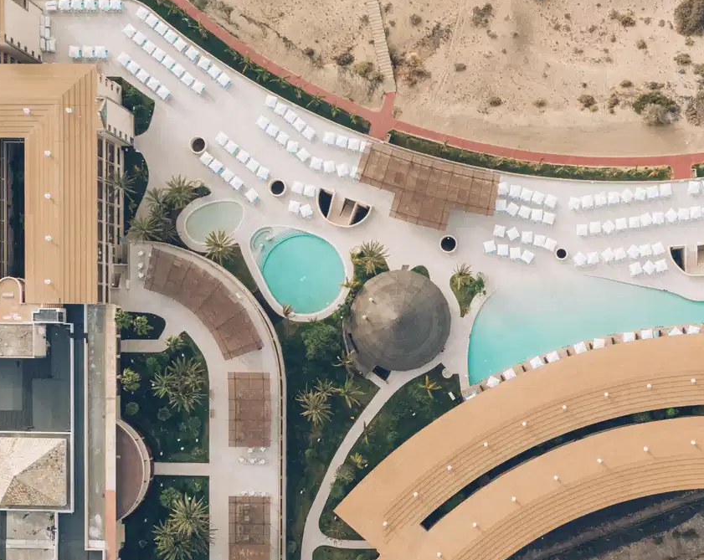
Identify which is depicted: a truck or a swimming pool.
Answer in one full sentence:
It is a swimming pool that can be seen here.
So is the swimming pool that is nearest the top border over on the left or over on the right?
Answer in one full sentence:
It is on the left.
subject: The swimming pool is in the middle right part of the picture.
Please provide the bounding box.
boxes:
[469,272,704,387]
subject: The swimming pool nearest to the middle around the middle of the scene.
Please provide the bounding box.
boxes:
[247,223,350,322]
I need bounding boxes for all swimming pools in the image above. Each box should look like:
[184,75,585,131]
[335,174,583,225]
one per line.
[247,223,350,322]
[469,272,704,387]
[182,198,246,246]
